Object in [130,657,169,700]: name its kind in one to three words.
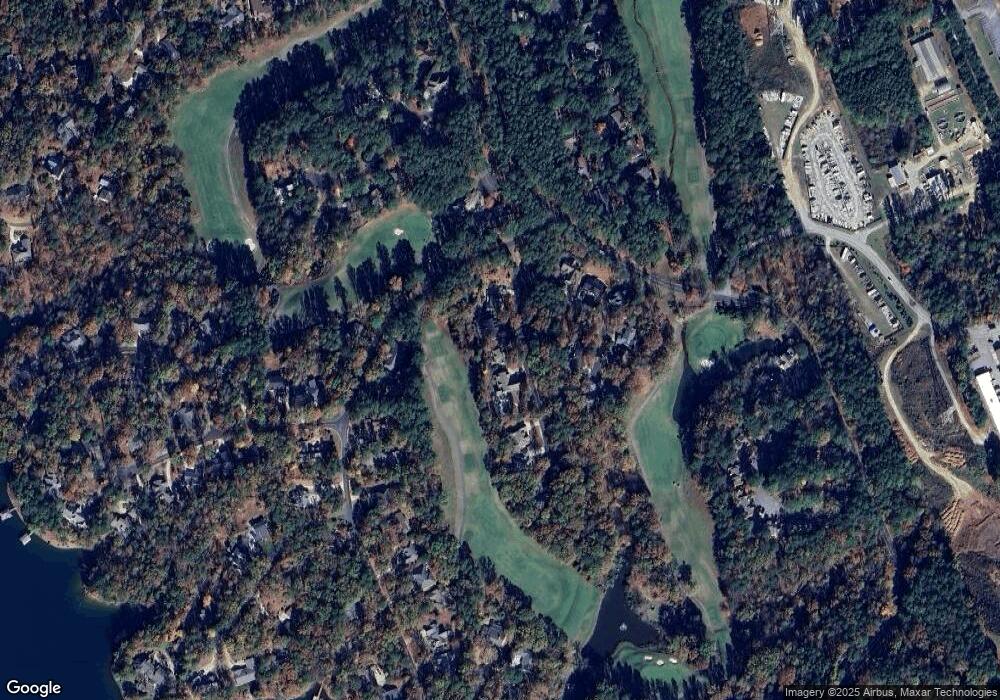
house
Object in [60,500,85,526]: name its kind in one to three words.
house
